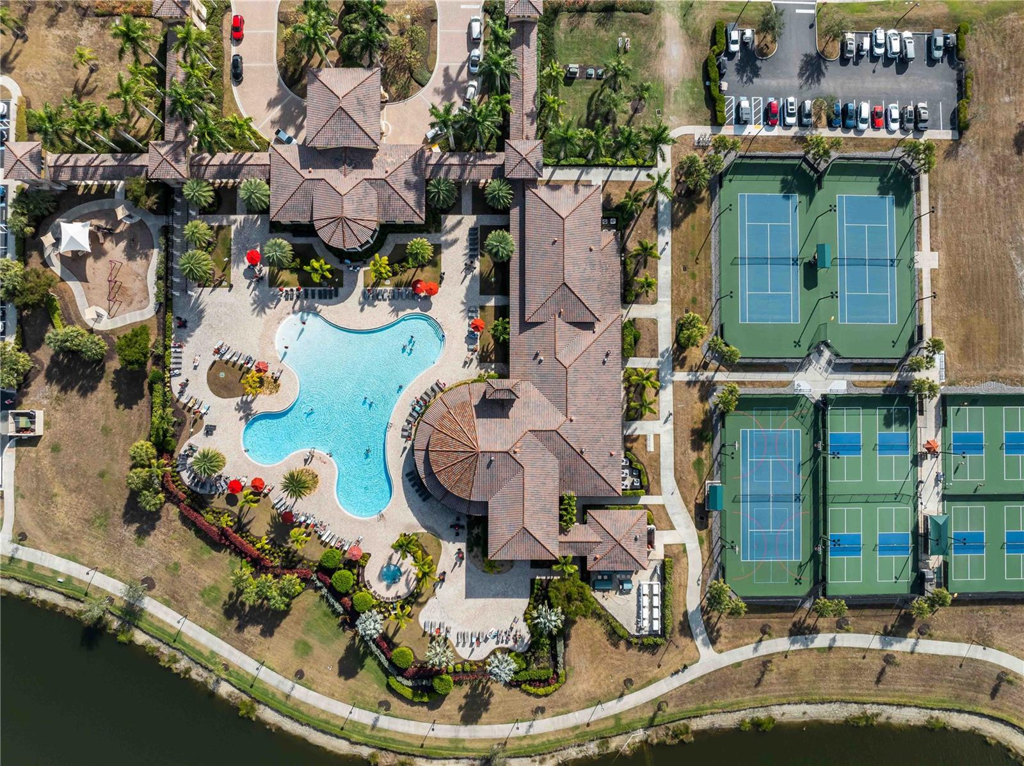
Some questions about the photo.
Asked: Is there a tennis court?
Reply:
Yes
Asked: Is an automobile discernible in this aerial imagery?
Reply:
Yes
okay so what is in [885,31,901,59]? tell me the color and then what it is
white car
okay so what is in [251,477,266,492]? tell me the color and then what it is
red umbrella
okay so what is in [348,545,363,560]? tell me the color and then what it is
red umbrella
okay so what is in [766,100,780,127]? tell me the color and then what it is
red car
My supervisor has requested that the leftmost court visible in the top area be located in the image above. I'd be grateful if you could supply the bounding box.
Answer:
[721,158,818,357]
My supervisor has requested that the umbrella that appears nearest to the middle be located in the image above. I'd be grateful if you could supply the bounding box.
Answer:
[470,318,485,333]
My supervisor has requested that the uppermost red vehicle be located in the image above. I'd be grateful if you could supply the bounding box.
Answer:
[231,14,245,41]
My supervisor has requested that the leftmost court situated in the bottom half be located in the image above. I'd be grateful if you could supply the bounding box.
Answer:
[723,395,820,596]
